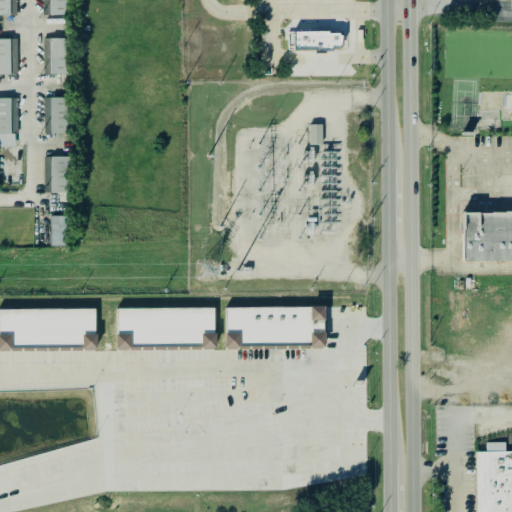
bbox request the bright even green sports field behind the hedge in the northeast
[446,29,512,78]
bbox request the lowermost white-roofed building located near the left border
[0,308,97,350]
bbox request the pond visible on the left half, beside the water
[0,400,88,456]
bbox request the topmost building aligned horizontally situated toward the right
[296,30,344,52]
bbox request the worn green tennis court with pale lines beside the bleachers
[452,80,478,128]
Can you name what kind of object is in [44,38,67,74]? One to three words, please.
shed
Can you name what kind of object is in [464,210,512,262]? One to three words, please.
building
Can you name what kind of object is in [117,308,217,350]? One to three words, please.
building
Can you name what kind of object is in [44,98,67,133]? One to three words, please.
shed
